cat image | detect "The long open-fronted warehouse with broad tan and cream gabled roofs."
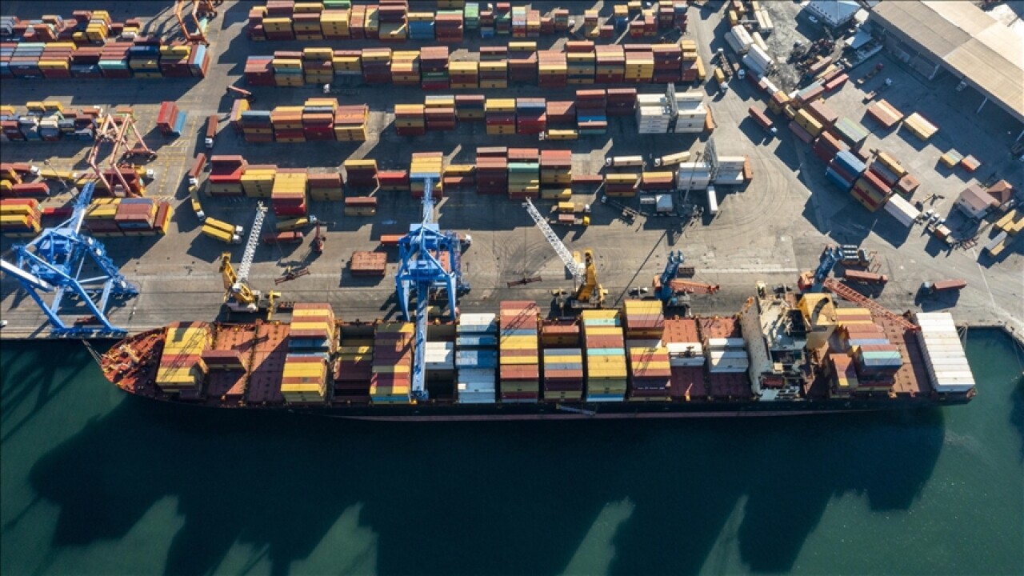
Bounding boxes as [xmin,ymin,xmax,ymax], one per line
[865,0,1024,127]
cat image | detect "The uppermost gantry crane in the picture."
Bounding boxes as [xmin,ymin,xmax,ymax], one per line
[173,0,224,44]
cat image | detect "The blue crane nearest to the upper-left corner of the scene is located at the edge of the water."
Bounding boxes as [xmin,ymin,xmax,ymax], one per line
[0,177,134,330]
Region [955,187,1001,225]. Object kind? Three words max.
house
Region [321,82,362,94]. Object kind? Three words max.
vehicle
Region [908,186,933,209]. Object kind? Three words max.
work vehicle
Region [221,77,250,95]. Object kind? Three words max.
work vehicle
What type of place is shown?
port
